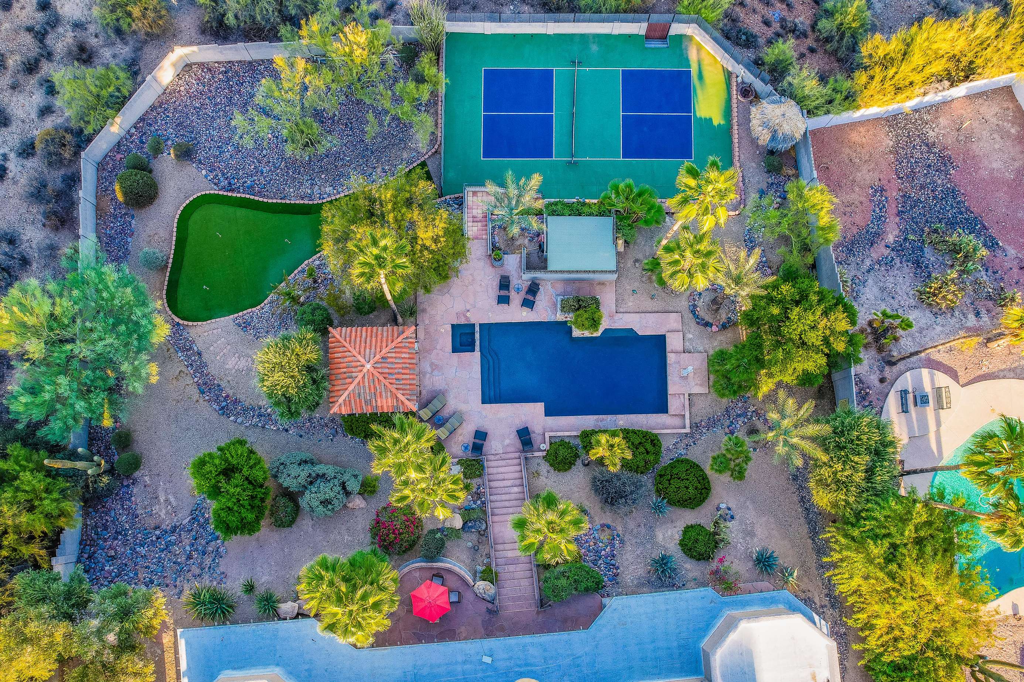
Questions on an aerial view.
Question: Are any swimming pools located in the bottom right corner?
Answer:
Yes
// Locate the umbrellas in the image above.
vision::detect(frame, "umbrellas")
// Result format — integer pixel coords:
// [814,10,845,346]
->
[752,89,811,147]
[411,581,450,622]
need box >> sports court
[442,34,733,201]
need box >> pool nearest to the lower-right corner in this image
[927,410,1024,604]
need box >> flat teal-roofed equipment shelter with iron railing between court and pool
[522,212,621,280]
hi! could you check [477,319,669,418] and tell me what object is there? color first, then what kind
blue swimming pool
